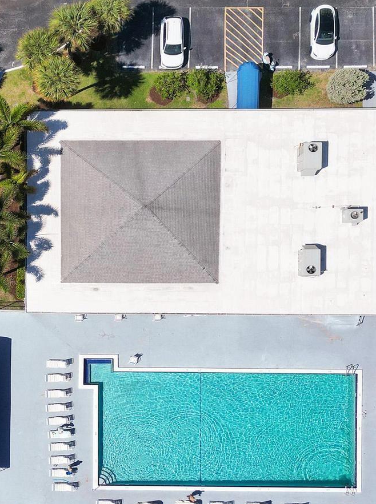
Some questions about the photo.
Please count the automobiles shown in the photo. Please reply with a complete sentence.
Altogether the scene contains 2 automobiles.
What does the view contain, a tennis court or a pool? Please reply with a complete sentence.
It is a pool that can be seen here.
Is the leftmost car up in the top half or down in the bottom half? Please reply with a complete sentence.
You can find the leftmost car in the top half.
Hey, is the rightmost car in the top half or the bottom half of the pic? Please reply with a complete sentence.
It is in the top half that the rightmost car appears.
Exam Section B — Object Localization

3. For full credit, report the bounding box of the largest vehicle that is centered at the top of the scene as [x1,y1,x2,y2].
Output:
[159,15,187,69]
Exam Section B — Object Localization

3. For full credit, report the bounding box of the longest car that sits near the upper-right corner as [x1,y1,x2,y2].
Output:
[310,5,339,61]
